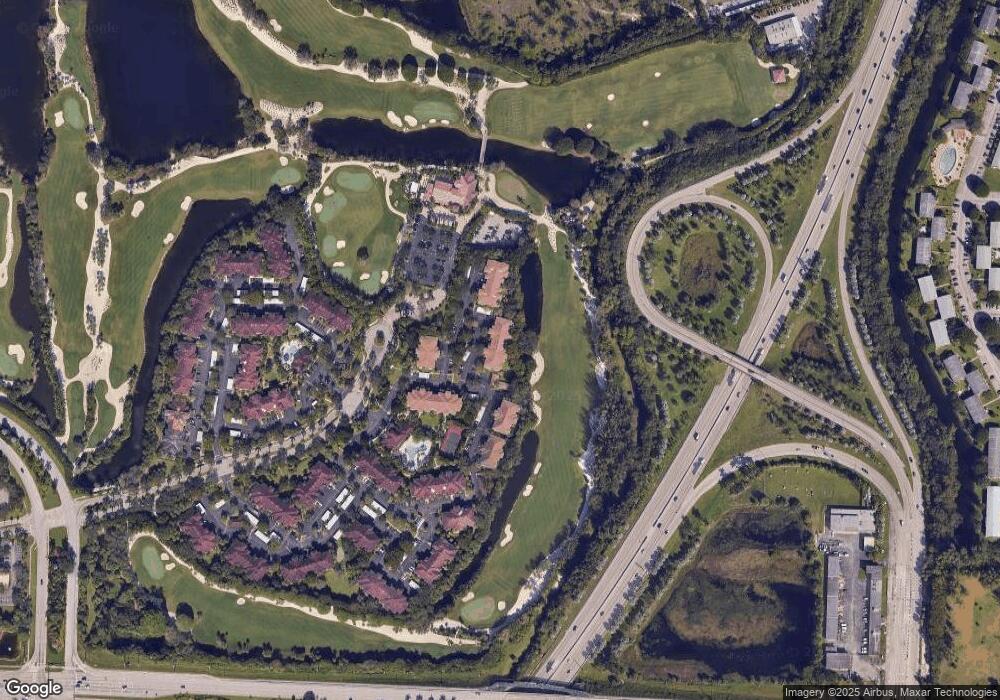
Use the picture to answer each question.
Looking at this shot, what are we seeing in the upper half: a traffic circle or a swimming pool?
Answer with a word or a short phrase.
swimming pool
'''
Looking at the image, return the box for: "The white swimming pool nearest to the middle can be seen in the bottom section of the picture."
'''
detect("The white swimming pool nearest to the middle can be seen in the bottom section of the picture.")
[399,433,434,473]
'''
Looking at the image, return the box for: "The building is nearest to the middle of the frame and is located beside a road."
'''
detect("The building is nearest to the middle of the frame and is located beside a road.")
[482,316,514,373]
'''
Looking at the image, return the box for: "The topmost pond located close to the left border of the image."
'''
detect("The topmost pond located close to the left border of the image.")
[10,201,58,430]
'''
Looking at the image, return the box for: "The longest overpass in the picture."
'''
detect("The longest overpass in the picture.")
[681,328,913,504]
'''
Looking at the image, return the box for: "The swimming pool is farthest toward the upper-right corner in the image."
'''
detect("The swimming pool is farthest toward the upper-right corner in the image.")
[930,129,972,187]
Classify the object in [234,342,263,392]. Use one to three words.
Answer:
building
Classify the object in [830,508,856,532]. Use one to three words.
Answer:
building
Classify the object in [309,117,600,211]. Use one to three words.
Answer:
pond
